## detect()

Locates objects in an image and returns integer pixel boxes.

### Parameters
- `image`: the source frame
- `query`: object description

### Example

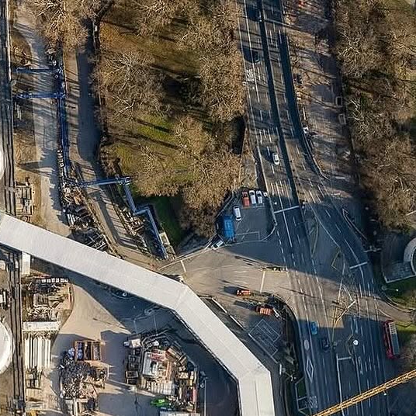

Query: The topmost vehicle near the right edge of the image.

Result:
[386,315,401,360]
